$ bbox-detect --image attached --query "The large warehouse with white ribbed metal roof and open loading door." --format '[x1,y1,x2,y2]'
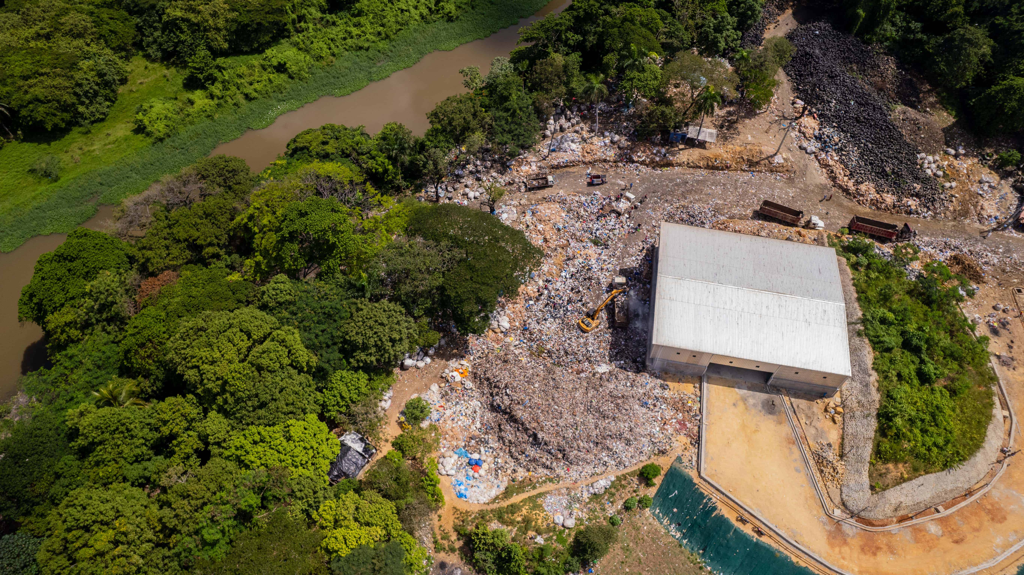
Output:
[647,222,852,396]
